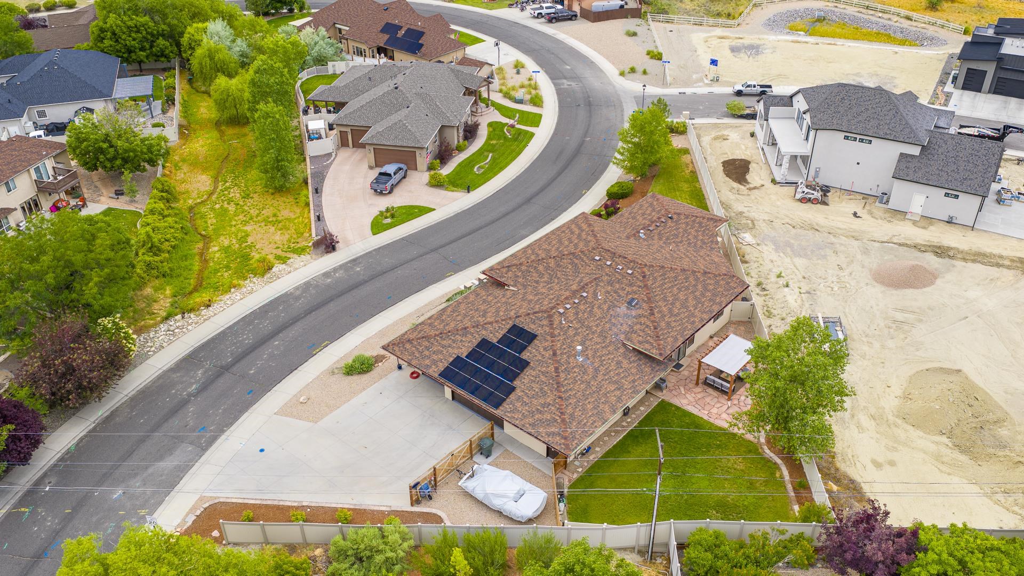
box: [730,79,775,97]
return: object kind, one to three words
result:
vehicle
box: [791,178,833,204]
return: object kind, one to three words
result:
work vehicle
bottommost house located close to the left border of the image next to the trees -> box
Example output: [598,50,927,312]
[0,138,90,230]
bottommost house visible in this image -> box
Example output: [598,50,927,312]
[382,194,754,461]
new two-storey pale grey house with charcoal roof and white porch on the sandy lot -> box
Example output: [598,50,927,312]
[762,83,1005,224]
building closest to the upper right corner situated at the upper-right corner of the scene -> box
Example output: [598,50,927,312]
[955,3,1024,99]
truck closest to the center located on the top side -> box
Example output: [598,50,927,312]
[368,160,410,190]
